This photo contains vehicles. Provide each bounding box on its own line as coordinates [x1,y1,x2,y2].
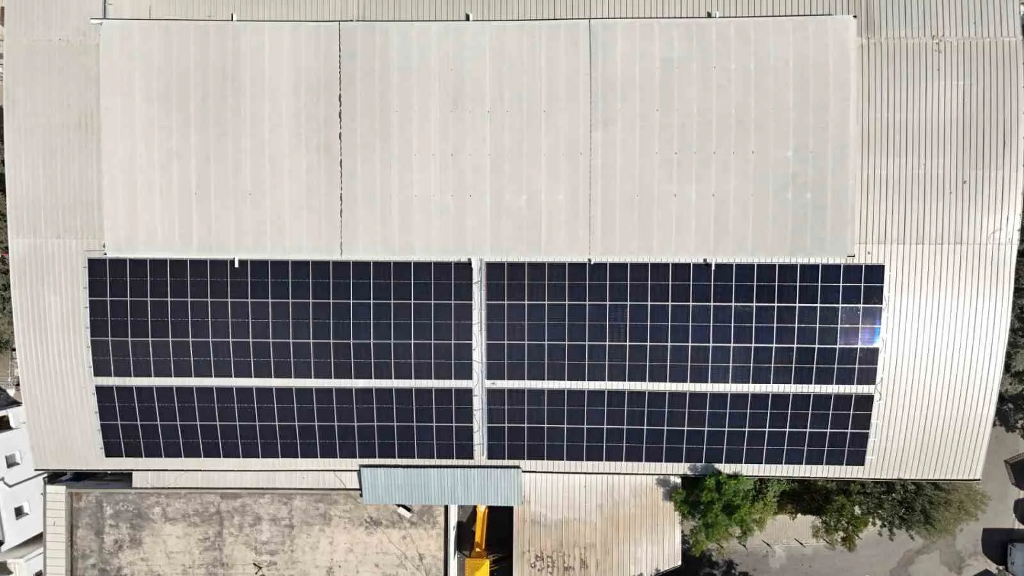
[461,506,499,576]
[990,536,1024,576]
